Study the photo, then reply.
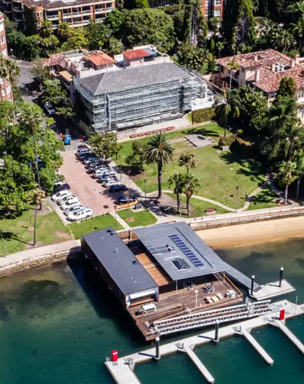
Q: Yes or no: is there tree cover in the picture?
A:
Yes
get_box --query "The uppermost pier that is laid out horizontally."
[248,279,297,302]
